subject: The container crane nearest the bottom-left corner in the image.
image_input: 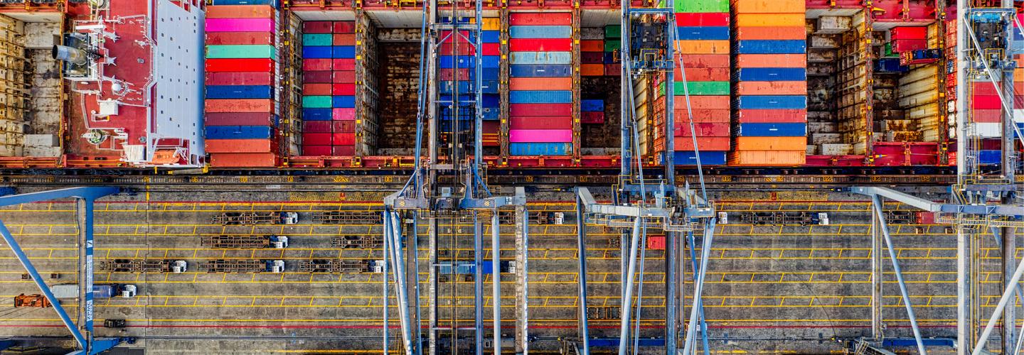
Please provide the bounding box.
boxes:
[0,185,145,355]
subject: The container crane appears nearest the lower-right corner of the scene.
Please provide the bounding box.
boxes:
[831,0,1024,355]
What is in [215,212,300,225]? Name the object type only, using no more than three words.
vehicle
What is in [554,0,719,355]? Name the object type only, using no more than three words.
container crane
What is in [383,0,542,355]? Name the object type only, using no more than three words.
container crane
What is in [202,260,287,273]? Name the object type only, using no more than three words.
vehicle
